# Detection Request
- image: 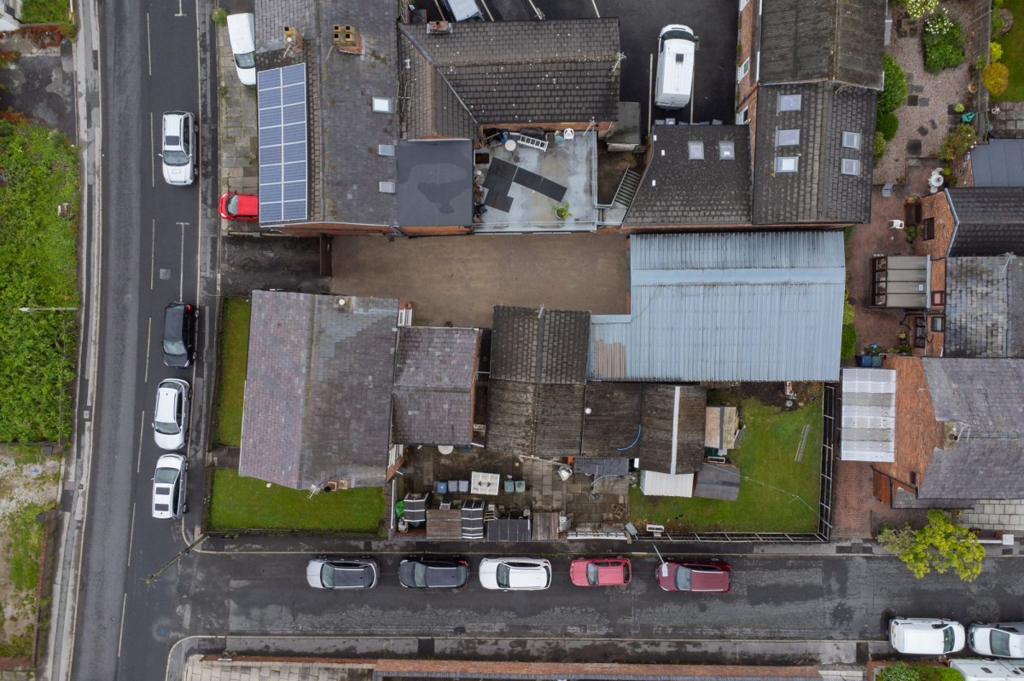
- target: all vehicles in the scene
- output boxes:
[886,616,960,653]
[219,190,257,221]
[963,619,1024,658]
[446,0,485,21]
[656,556,730,593]
[162,302,199,367]
[481,555,551,590]
[571,555,631,587]
[308,554,379,591]
[400,553,468,589]
[222,5,255,89]
[152,453,189,518]
[656,30,698,119]
[161,111,201,186]
[153,379,191,449]
[954,659,1024,681]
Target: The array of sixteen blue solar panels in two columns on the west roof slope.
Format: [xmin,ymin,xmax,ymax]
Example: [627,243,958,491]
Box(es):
[256,61,307,225]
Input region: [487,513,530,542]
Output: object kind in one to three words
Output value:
shed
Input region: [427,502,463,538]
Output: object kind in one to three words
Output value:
shed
